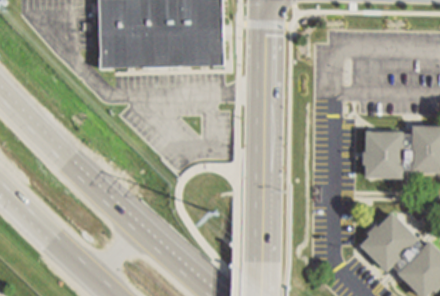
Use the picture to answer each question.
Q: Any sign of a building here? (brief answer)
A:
Yes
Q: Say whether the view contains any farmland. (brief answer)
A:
No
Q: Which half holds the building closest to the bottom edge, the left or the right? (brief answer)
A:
right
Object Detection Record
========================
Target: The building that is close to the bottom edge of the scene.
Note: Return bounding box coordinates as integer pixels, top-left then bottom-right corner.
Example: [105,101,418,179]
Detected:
[362,212,440,296]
